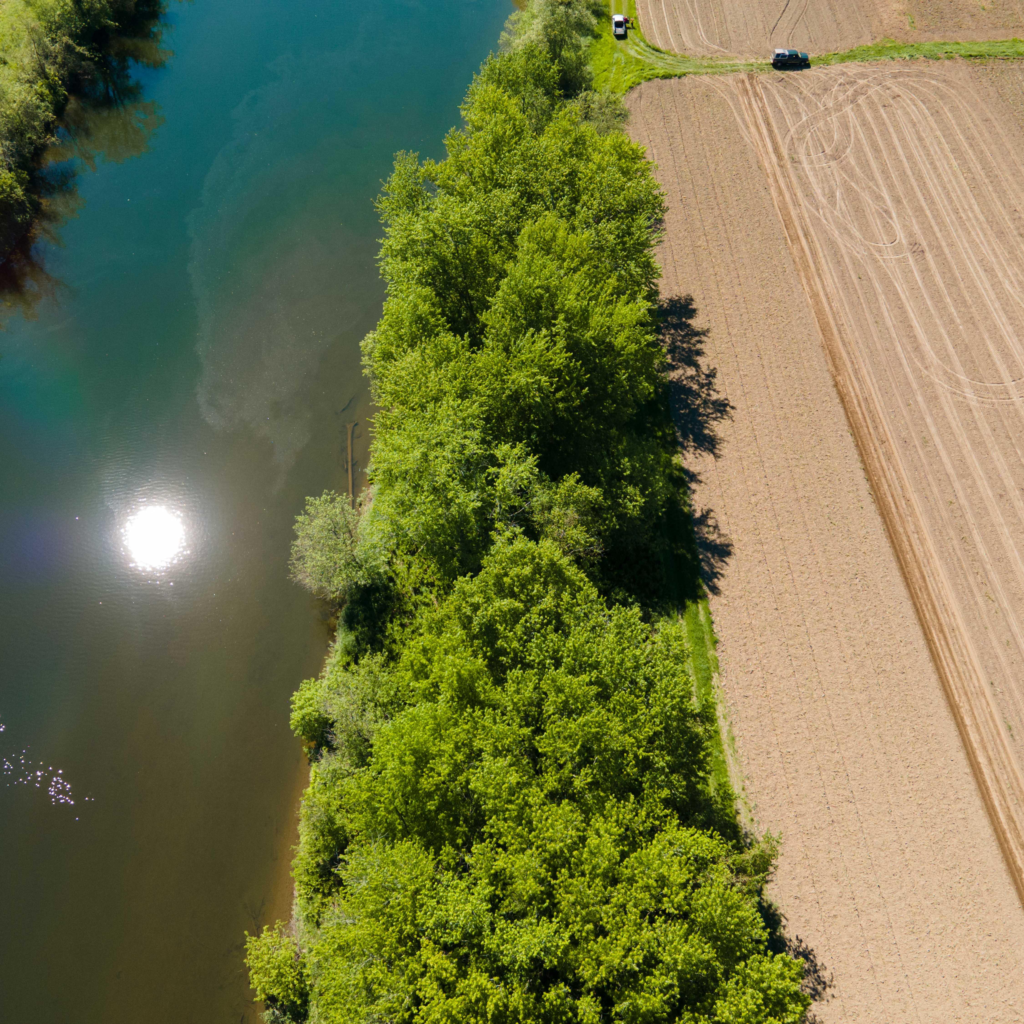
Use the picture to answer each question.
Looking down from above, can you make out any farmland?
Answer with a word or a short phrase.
Yes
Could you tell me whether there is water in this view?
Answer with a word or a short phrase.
Yes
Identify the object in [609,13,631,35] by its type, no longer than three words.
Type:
truck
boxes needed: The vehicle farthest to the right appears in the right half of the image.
[768,47,810,66]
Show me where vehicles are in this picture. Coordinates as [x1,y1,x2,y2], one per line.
[609,13,631,35]
[768,47,810,66]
